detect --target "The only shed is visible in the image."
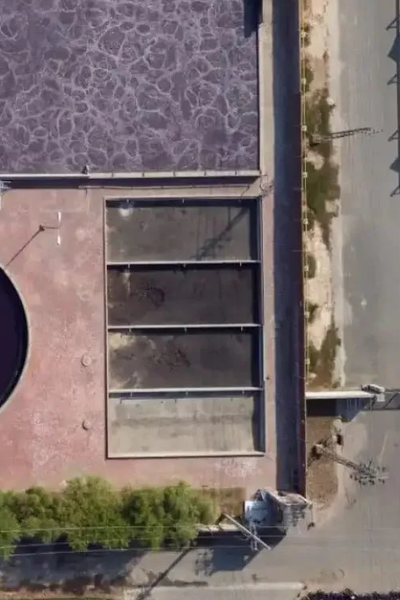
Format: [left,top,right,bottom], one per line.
[262,486,313,506]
